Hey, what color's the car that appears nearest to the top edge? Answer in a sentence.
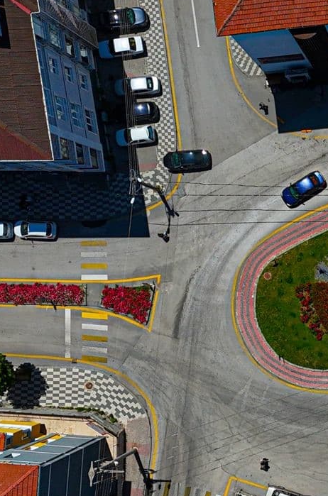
The car that appears nearest to the top edge is black.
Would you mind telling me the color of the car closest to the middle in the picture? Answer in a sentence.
The car closest to the middle is black.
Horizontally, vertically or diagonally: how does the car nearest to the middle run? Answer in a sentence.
The car nearest to the middle is oriented horizontally.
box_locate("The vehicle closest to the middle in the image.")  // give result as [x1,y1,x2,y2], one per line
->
[164,149,213,172]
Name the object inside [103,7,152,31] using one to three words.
car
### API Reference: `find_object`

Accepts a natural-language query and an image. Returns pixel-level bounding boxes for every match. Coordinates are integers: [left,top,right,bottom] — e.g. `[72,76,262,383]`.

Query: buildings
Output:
[0,416,106,496]
[214,0,328,70]
[0,0,105,169]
